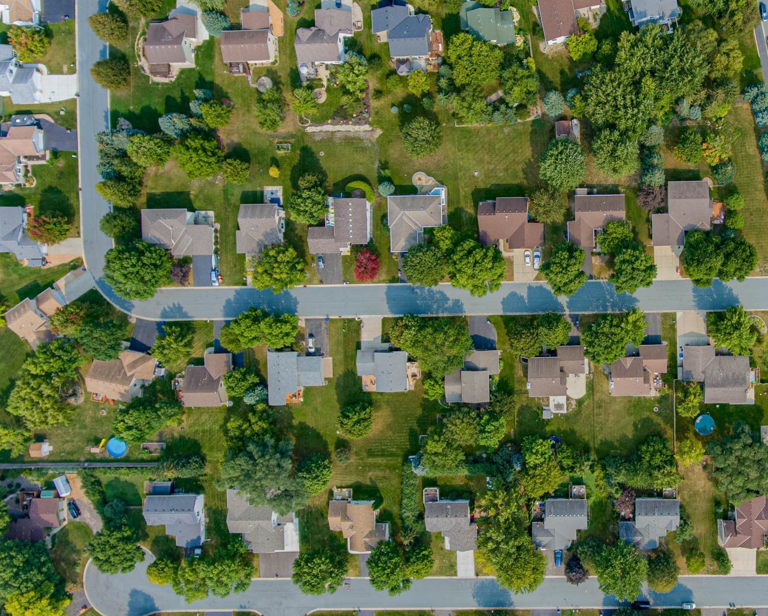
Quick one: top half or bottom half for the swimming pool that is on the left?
bottom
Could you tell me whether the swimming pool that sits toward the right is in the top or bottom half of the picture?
bottom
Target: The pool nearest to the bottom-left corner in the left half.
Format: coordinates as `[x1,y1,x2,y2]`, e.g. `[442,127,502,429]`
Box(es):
[107,435,129,458]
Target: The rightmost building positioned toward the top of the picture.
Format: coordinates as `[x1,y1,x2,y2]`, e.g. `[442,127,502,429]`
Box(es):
[652,181,725,246]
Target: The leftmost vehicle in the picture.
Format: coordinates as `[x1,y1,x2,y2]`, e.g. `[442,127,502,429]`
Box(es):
[68,499,81,519]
